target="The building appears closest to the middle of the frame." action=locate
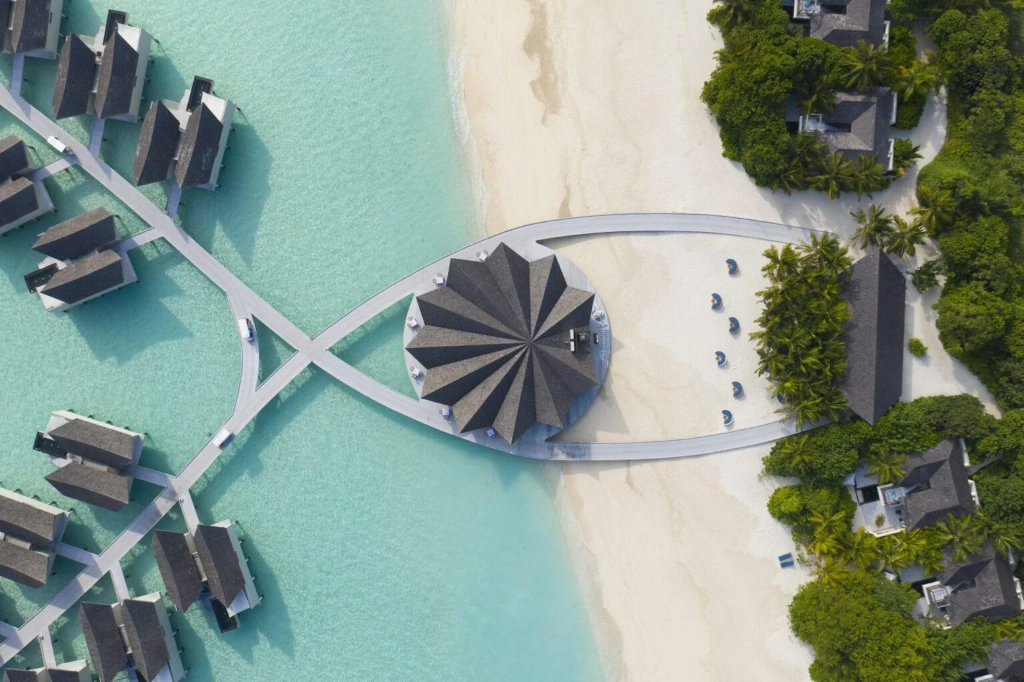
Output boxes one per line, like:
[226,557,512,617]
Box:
[401,225,612,459]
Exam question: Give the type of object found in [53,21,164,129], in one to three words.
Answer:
house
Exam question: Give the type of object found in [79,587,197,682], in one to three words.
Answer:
house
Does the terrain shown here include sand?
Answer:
Yes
